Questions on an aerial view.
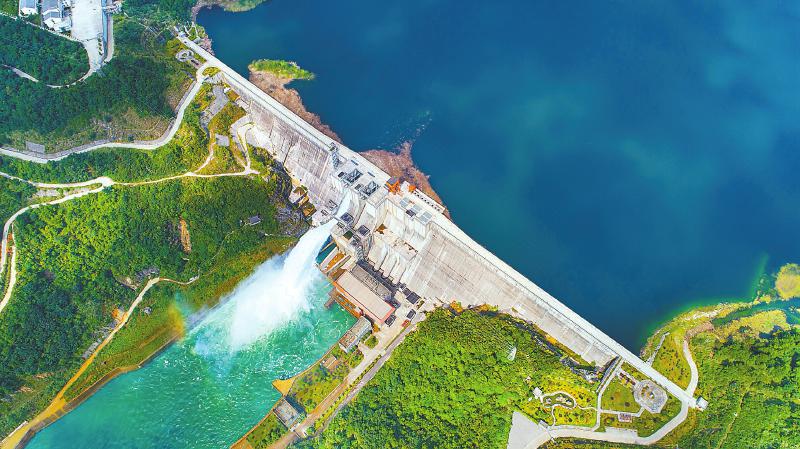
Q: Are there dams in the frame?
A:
Yes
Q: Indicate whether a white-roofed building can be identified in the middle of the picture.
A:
Yes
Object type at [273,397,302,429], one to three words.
building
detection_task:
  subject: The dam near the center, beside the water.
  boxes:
[173,28,696,412]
